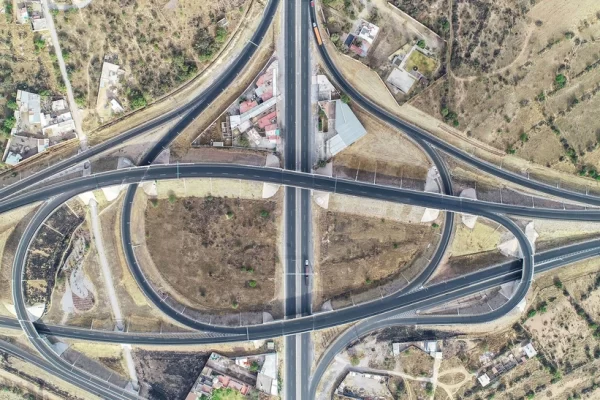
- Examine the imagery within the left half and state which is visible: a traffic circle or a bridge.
bridge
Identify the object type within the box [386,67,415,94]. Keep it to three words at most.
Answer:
house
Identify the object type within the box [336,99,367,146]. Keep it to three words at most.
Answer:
building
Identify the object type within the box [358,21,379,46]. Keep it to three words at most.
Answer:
house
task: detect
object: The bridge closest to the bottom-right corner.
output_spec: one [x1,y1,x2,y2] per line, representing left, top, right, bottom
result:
[497,221,538,297]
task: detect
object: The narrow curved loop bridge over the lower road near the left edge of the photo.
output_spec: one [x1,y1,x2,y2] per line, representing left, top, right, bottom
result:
[3,303,69,354]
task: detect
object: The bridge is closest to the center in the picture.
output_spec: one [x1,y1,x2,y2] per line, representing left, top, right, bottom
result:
[263,154,332,209]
